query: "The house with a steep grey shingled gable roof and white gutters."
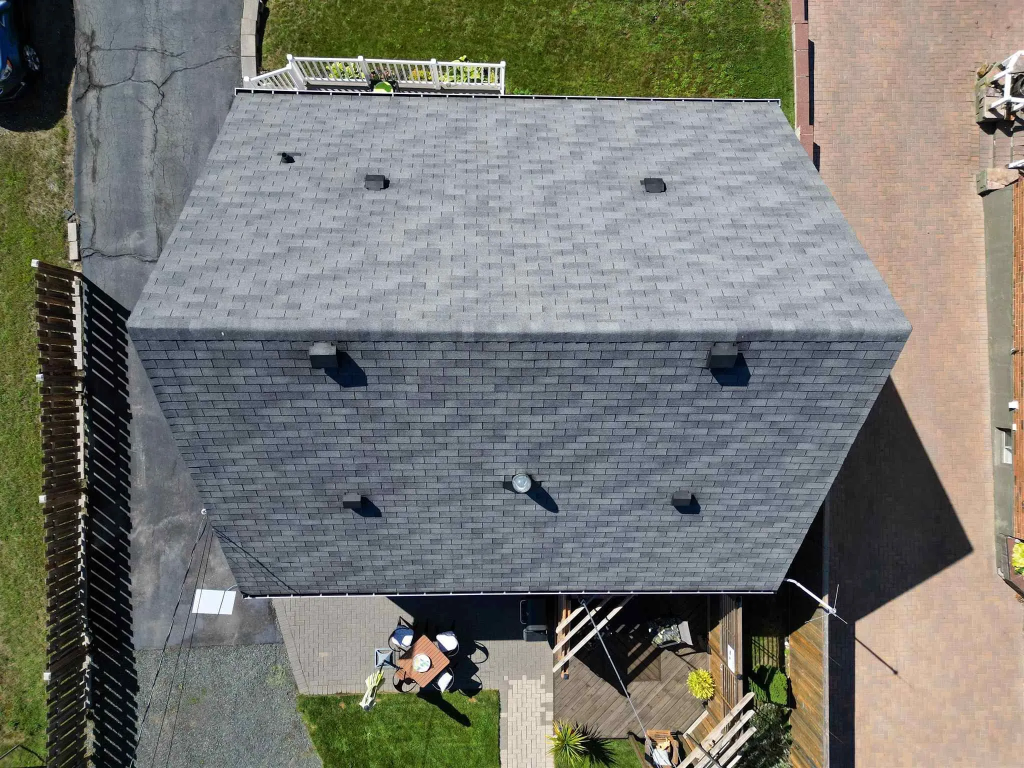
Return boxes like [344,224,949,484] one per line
[125,88,913,600]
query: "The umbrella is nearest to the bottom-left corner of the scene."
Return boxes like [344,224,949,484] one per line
[361,650,393,709]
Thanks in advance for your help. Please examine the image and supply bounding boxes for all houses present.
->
[125,88,913,600]
[984,158,1024,544]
